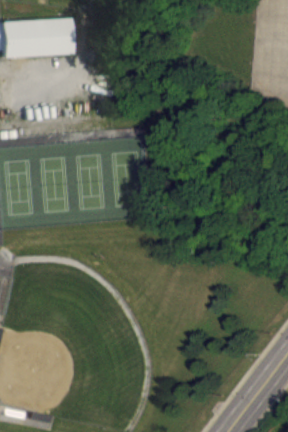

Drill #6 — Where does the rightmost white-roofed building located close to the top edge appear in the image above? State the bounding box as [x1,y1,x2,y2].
[3,16,78,58]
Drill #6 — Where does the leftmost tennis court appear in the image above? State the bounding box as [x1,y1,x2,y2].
[4,159,32,215]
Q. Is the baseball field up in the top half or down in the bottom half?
bottom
